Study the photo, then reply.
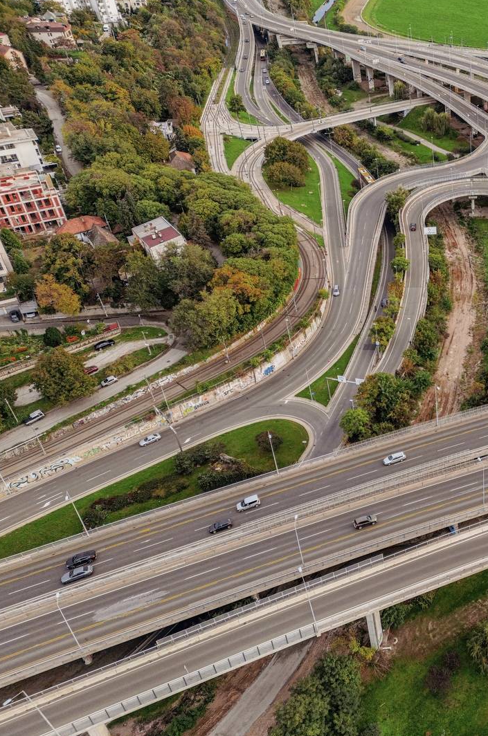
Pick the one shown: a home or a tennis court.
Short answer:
home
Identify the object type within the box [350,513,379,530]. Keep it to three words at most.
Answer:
car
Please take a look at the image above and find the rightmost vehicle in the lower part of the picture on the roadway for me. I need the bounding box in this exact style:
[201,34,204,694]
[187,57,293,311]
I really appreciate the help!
[380,450,407,466]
